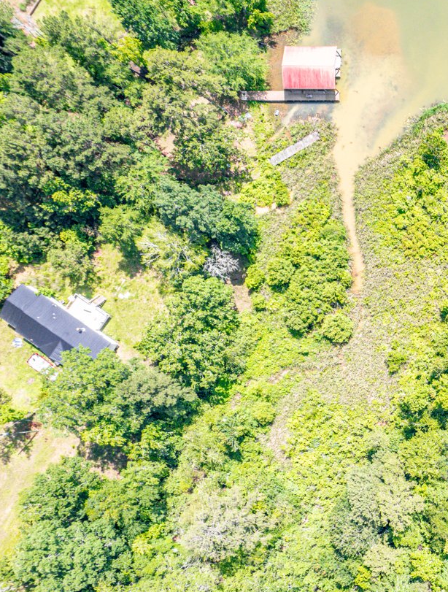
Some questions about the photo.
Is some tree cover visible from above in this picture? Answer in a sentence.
Yes, some tree cover is visible.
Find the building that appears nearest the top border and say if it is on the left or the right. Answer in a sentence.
The building that appears nearest the top border is on the right side of the image.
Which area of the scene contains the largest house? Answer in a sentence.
The largest house appears toward the left of the photo.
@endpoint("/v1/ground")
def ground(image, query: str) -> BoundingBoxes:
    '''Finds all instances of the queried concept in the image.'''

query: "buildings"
[1,284,119,372]
[280,46,345,99]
